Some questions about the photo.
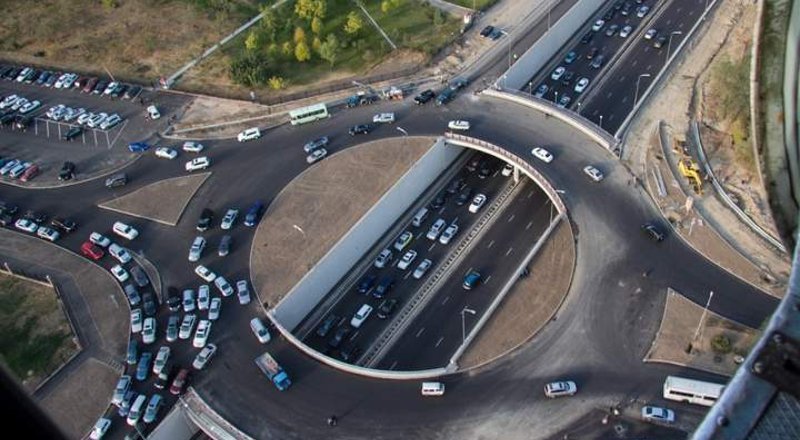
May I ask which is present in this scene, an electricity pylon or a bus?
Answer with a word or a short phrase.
bus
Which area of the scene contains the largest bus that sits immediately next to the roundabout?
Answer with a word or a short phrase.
bottom right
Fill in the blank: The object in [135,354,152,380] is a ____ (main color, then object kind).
blue car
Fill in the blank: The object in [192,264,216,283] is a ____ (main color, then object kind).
white car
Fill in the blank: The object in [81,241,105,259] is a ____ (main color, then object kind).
red car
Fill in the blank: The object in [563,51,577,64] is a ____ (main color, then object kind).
blue vehicle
